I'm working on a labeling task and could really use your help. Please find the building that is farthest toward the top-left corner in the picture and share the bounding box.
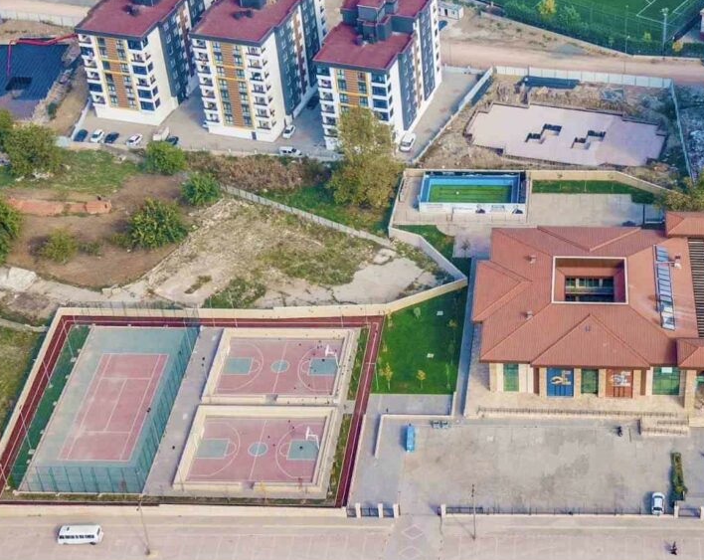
[71,0,213,126]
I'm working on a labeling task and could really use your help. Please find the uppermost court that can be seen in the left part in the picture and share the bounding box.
[201,327,353,404]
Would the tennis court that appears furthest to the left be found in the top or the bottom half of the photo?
bottom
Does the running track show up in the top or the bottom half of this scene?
bottom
